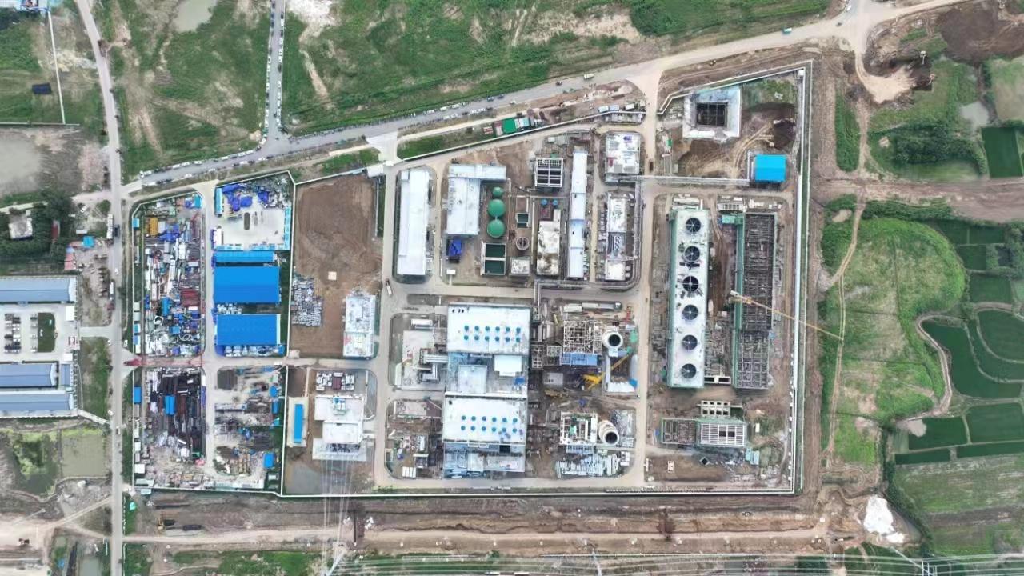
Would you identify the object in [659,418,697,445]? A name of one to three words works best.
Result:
building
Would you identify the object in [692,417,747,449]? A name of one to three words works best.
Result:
building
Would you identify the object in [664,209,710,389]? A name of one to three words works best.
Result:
cooling tower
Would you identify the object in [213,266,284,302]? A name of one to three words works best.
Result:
shed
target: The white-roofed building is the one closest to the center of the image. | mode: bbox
[511,258,530,274]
